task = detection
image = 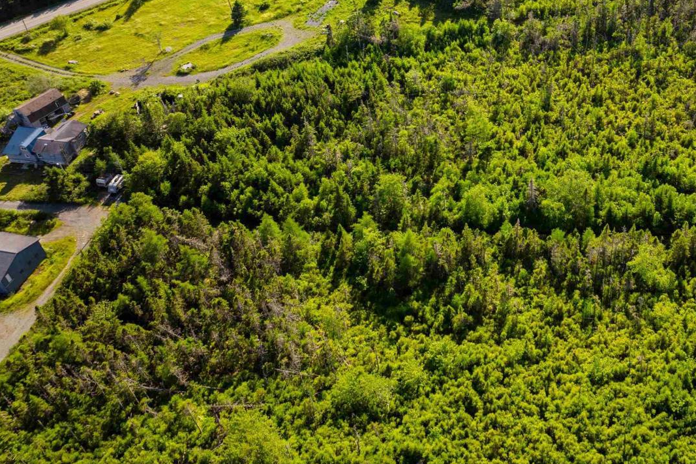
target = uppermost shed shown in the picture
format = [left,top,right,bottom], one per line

[9,94,71,127]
